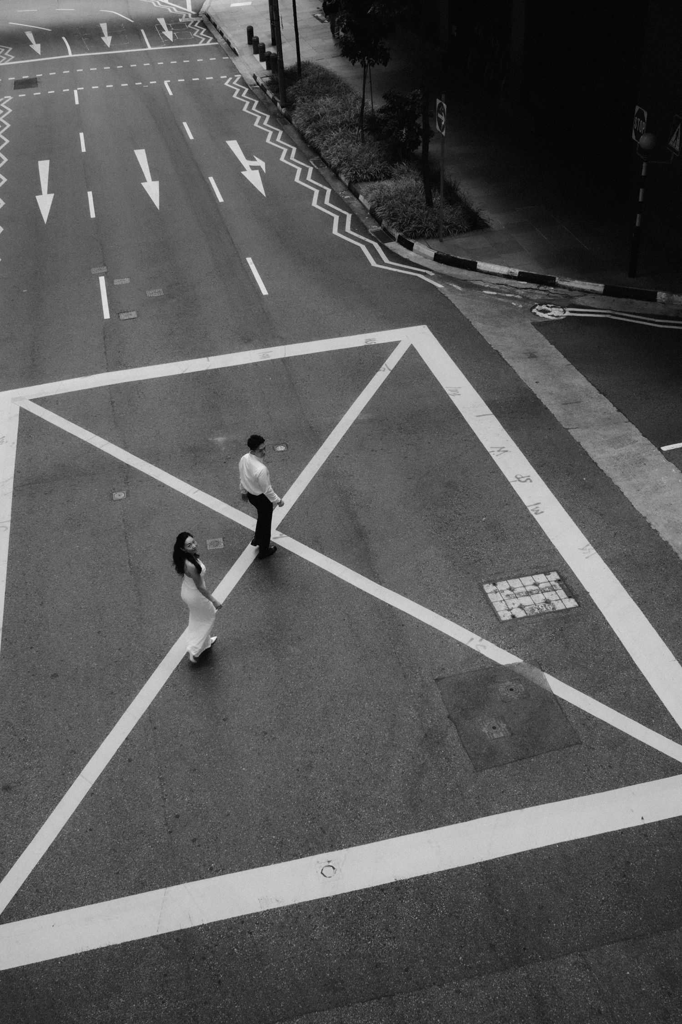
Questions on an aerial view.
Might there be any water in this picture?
No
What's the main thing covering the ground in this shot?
paved ground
